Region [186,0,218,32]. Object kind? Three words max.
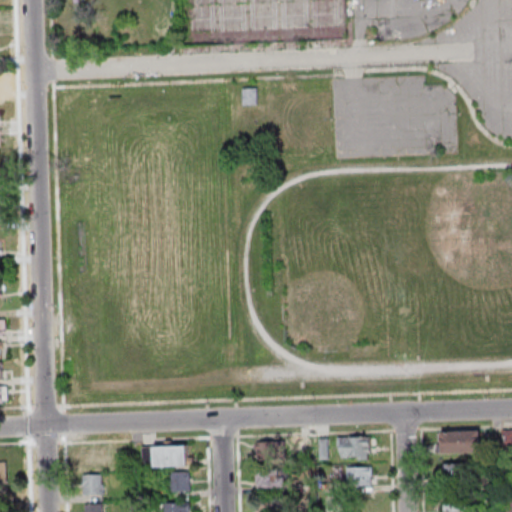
tennis court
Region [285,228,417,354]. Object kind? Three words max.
baseball field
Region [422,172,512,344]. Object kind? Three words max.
baseball field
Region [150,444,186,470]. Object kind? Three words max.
building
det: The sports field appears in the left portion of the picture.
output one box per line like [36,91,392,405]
[66,90,233,374]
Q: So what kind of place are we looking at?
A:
sports ground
